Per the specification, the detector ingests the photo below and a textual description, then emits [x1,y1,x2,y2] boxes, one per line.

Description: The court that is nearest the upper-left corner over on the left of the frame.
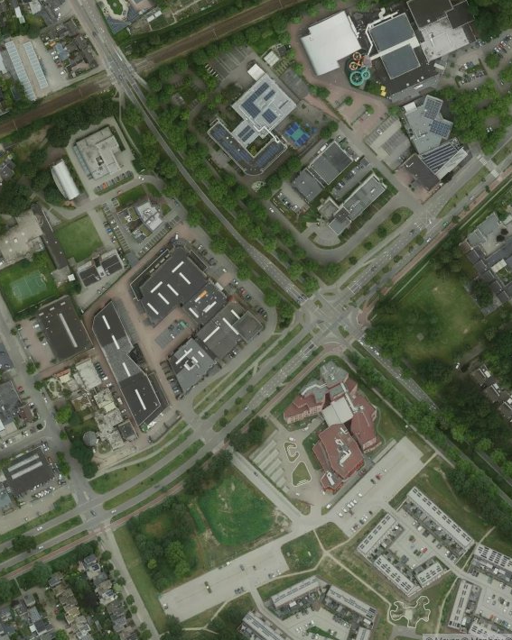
[11,272,46,300]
